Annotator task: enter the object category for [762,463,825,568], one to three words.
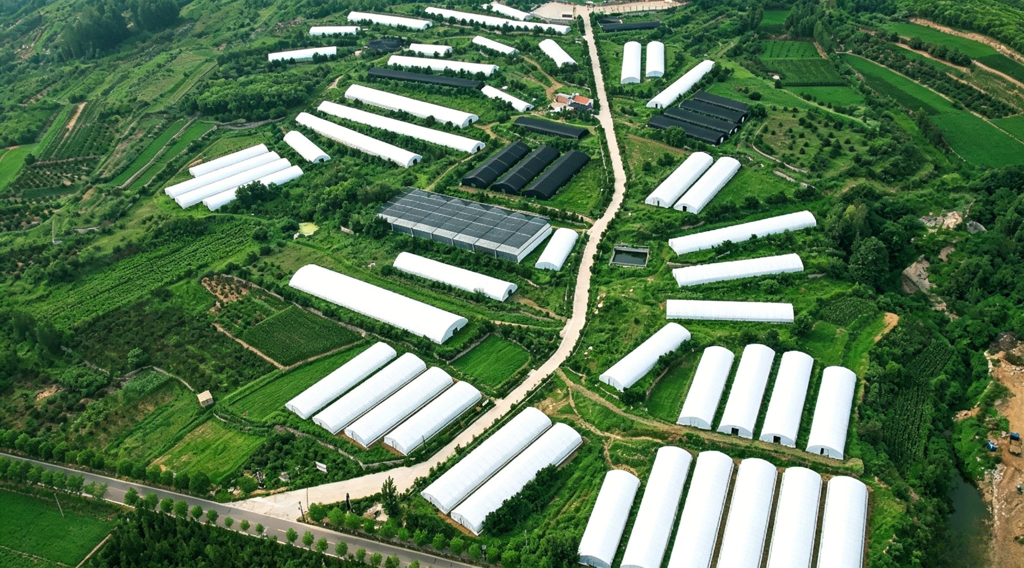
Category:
greenhouse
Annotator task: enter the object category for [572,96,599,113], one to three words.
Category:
house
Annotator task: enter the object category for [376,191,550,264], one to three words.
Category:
building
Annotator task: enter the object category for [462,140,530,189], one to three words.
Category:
greenhouse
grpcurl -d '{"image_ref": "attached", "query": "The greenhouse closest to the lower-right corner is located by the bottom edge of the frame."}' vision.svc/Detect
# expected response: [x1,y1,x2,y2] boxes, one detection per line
[820,470,872,568]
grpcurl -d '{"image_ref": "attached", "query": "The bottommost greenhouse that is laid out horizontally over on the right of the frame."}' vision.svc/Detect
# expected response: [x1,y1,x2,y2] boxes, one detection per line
[666,298,795,323]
